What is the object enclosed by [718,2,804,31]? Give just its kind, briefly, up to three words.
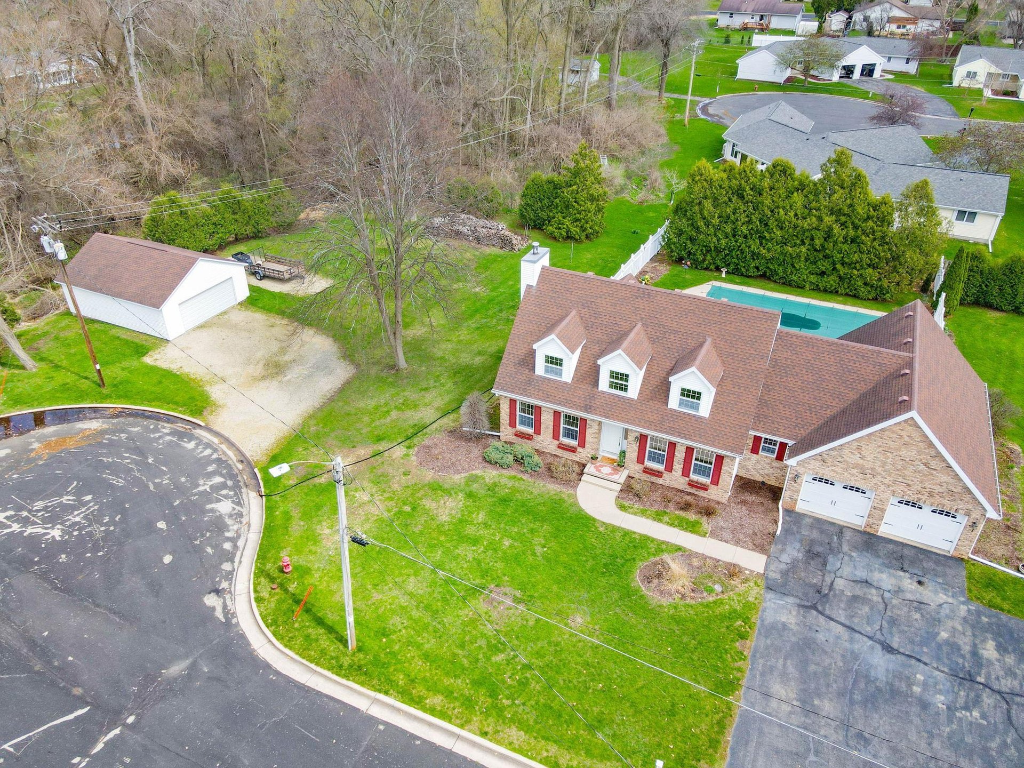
house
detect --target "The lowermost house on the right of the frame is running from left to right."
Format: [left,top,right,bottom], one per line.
[462,242,1024,578]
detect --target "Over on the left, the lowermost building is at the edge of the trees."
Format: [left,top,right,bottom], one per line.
[52,235,251,340]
